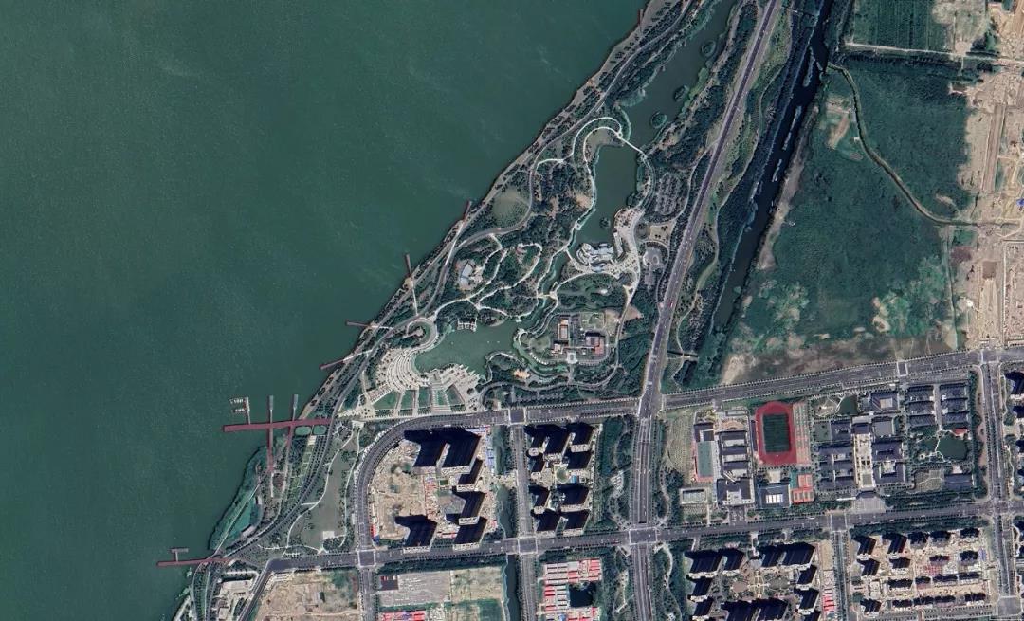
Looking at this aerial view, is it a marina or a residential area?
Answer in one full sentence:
It's a marina.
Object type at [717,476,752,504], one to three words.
building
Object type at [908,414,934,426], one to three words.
building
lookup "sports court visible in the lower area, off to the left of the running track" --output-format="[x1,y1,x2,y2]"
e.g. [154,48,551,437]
[697,442,713,478]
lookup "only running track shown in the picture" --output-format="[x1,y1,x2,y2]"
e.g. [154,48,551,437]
[756,401,796,466]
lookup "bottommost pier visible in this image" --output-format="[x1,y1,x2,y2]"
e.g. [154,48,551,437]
[158,548,232,566]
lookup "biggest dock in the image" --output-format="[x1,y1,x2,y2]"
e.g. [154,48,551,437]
[223,394,334,473]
